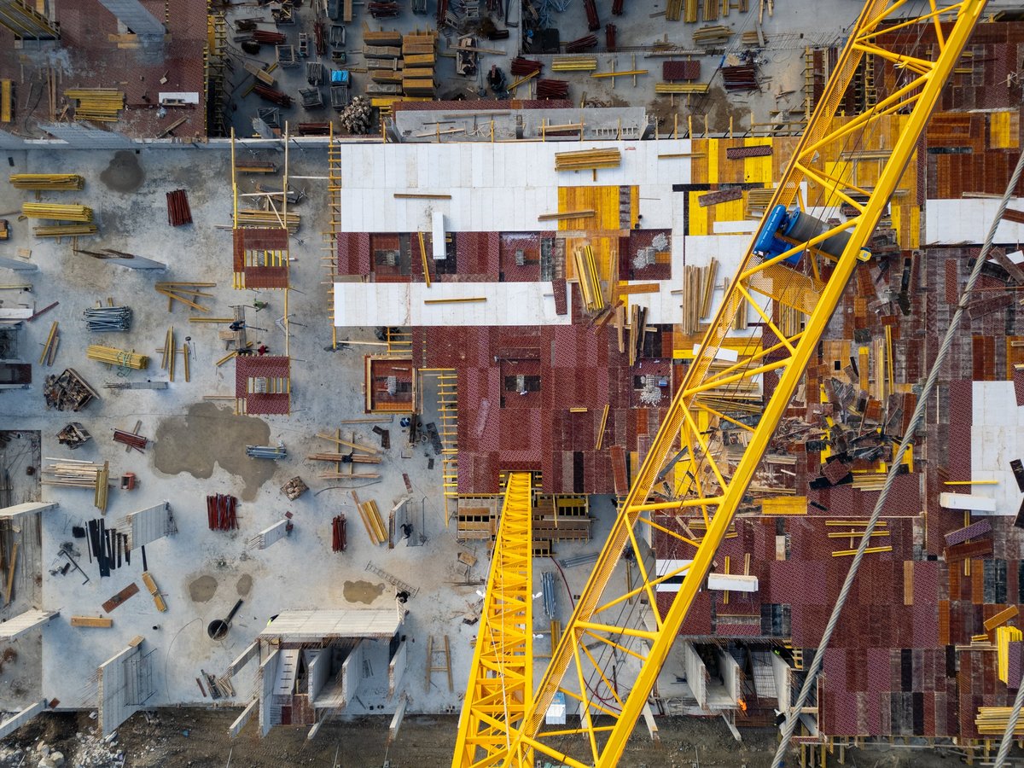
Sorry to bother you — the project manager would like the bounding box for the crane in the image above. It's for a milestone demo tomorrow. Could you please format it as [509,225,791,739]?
[449,0,983,768]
